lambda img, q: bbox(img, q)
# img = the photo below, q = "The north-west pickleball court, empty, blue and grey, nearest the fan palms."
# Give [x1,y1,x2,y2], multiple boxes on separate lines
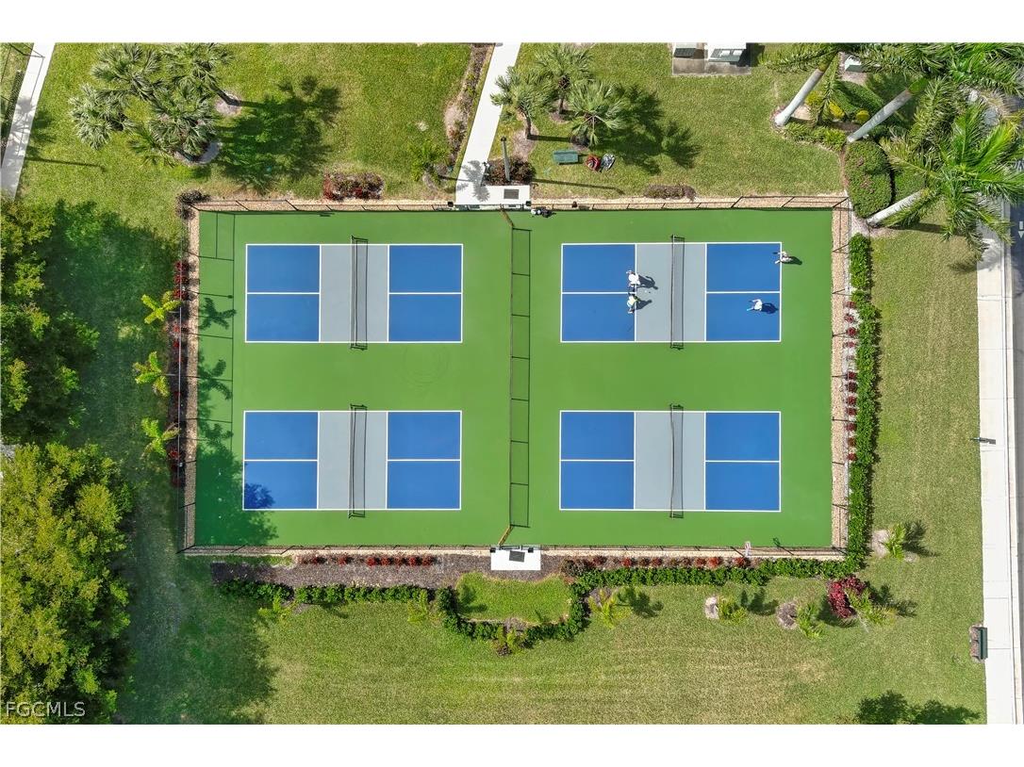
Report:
[245,243,462,343]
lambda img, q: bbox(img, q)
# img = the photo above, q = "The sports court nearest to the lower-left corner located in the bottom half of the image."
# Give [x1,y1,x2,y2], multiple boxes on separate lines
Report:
[243,410,462,511]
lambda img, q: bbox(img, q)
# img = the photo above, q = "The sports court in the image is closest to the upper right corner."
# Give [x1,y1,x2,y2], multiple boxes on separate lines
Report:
[561,242,781,343]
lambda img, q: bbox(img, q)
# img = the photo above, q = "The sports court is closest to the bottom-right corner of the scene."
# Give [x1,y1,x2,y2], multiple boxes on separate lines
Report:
[561,411,782,512]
